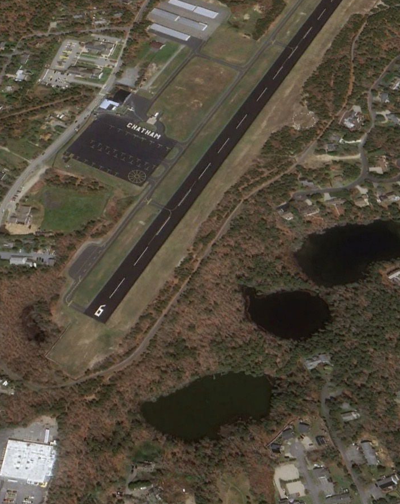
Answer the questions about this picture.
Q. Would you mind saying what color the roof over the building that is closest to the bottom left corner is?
white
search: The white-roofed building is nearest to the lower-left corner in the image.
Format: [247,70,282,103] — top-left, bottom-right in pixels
[0,439,56,485]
